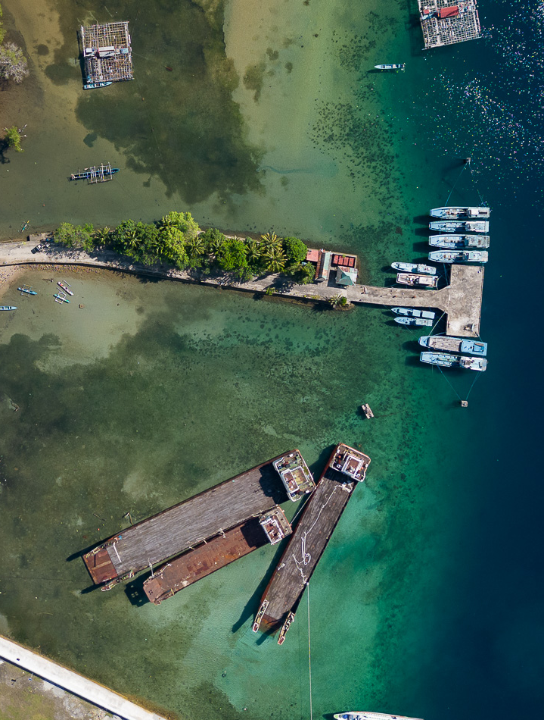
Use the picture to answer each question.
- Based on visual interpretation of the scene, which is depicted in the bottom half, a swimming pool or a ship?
ship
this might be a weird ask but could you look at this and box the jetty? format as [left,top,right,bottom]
[347,265,484,338]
